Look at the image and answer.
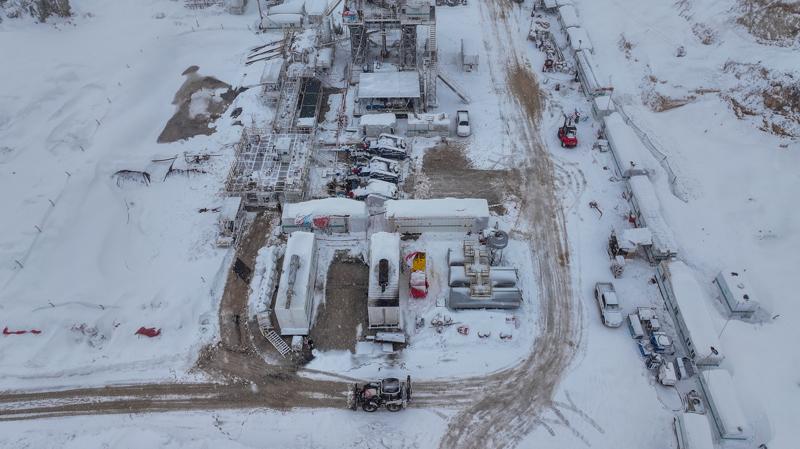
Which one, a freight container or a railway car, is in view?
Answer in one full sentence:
Visible in the photo is a freight container.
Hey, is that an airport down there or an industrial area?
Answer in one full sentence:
The picture captures an industrial area.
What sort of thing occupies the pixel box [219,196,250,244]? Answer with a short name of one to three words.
shed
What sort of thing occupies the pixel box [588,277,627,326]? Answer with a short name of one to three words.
truck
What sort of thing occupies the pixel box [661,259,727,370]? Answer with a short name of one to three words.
trailer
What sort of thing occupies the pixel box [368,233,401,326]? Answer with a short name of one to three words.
shipping container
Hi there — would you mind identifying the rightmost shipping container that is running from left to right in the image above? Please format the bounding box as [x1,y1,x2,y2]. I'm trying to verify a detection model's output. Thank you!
[390,198,494,233]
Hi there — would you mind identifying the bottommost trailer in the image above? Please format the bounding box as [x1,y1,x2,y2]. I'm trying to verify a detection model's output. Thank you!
[659,408,718,449]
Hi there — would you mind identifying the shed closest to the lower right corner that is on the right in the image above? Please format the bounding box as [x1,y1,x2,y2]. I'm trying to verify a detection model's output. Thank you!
[709,269,761,322]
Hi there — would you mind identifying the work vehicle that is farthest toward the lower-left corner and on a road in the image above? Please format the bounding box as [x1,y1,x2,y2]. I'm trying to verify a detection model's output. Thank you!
[343,372,410,409]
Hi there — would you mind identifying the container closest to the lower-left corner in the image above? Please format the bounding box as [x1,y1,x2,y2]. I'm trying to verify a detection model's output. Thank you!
[274,232,319,334]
